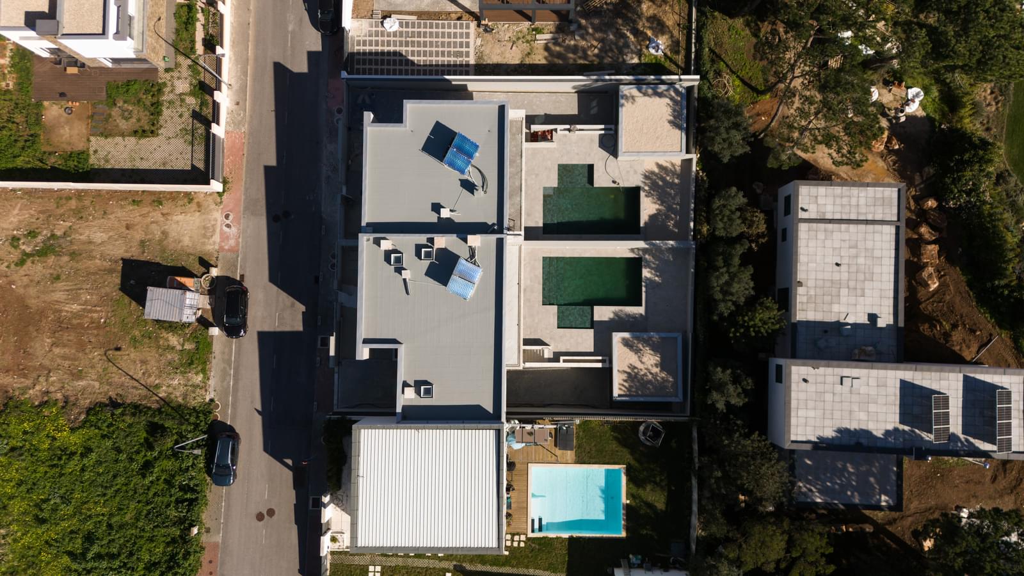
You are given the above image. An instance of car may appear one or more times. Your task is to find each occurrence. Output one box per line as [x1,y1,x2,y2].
[220,281,250,338]
[209,428,242,488]
[314,0,341,33]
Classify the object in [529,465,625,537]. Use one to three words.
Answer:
swimming pool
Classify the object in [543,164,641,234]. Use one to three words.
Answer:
swimming pool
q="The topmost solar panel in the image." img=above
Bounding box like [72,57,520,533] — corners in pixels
[443,132,480,175]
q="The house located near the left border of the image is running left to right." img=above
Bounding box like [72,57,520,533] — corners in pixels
[0,0,165,68]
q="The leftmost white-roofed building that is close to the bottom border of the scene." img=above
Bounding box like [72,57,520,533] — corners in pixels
[350,407,507,554]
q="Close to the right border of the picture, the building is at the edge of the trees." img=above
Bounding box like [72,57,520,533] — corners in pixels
[768,181,1024,510]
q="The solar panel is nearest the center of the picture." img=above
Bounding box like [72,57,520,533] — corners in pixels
[446,257,482,300]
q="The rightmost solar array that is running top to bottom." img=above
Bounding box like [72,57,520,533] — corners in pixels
[985,388,1012,454]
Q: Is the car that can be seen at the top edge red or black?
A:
black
